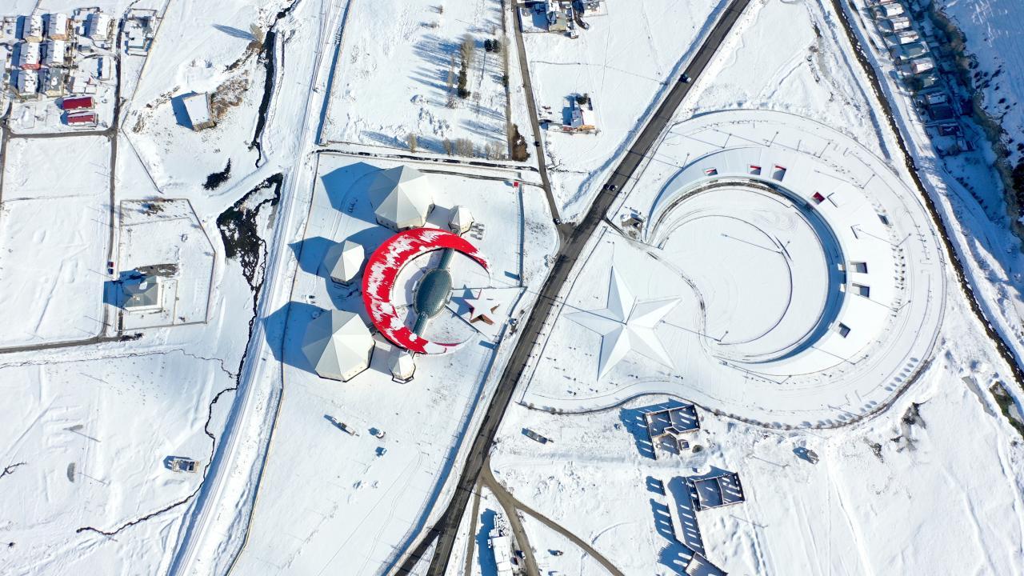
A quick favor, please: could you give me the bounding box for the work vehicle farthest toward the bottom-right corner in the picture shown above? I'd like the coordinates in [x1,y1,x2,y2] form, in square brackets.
[797,447,818,464]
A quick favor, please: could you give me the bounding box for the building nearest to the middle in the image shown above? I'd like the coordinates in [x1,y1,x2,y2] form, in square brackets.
[463,289,499,326]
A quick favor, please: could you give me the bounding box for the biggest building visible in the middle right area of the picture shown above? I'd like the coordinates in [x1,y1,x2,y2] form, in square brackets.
[641,144,899,379]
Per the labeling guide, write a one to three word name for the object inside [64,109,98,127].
barn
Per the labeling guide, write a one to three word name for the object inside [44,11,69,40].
house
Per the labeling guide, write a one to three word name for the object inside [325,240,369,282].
building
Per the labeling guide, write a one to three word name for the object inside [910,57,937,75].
house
